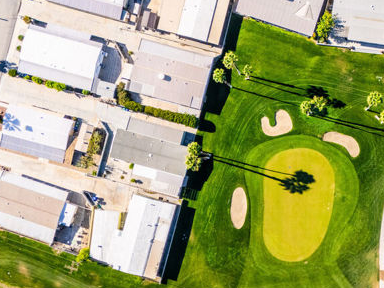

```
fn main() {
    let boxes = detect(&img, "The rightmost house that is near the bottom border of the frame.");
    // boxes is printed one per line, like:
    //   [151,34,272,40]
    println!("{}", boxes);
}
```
[90,195,180,281]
